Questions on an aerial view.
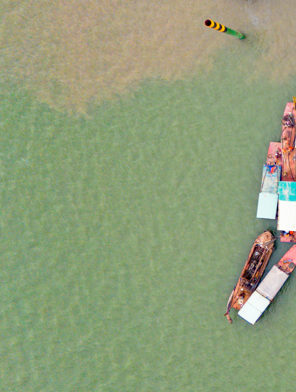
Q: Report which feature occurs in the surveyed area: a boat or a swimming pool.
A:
boat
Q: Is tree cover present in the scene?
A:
No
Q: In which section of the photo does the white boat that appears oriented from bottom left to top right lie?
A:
bottom right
